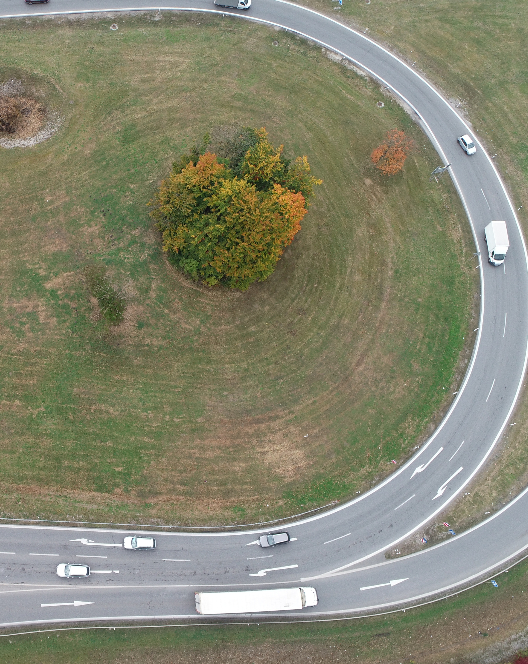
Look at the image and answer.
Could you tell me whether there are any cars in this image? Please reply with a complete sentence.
Yes, a car is visible in the scene.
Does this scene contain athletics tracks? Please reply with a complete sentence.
No, there isn't any athletics track down there.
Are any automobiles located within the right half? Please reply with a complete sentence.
Yes, an automobile is visible within the right half.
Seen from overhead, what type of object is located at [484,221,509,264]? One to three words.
truck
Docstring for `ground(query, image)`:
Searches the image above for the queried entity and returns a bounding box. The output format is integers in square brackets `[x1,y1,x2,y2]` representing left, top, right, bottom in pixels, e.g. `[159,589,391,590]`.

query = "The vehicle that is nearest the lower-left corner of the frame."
[57,562,90,579]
